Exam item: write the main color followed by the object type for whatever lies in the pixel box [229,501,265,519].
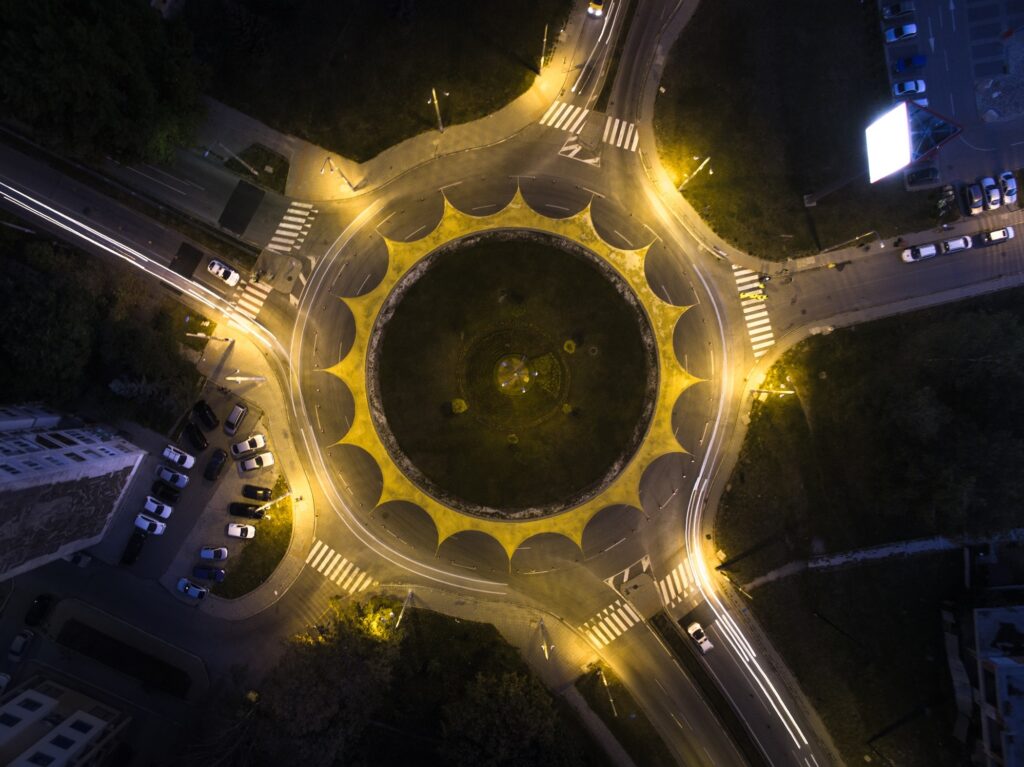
black car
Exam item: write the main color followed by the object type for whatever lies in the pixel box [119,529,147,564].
black car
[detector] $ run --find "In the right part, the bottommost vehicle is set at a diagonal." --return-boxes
[686,621,714,654]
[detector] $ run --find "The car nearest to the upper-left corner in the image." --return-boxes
[206,259,239,284]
